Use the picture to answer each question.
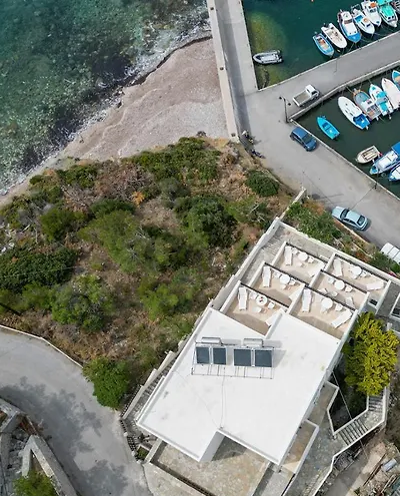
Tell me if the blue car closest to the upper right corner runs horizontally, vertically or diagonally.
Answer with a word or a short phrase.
diagonally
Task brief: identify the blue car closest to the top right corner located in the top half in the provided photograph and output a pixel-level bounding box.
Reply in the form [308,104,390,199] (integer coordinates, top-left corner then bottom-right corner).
[289,122,317,150]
